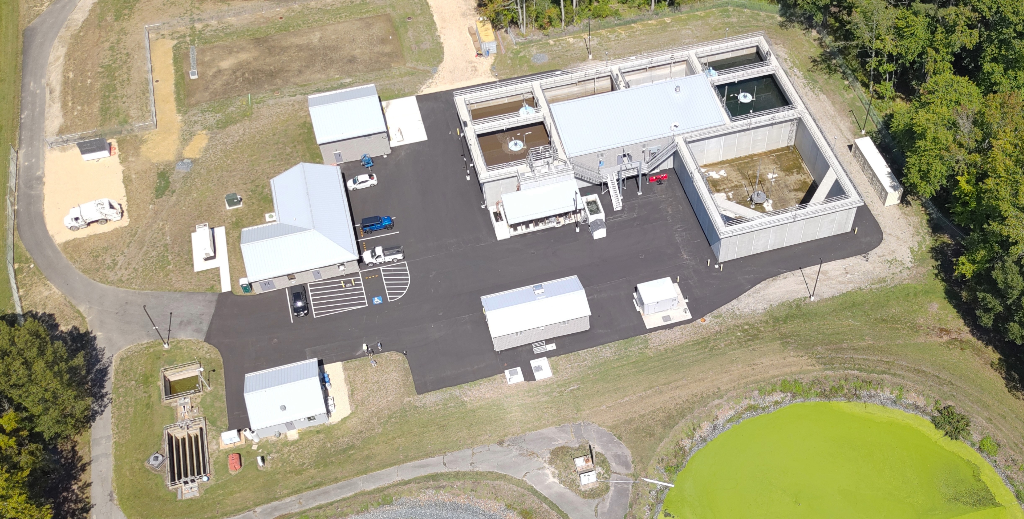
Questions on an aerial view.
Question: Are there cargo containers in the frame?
Yes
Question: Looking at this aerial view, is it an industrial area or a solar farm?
industrial area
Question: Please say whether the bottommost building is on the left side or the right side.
left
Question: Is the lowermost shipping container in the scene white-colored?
Yes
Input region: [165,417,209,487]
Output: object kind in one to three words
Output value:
storage tank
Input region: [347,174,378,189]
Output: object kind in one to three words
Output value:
car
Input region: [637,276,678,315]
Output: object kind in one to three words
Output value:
building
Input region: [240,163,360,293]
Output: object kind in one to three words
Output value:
building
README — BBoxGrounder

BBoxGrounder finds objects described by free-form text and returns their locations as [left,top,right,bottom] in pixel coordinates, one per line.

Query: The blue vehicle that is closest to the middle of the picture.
[362,214,394,233]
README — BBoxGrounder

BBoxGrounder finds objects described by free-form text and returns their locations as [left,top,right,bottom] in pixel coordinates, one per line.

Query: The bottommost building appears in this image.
[243,357,328,438]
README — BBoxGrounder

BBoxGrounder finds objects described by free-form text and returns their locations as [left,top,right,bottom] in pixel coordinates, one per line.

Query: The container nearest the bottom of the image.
[853,136,905,205]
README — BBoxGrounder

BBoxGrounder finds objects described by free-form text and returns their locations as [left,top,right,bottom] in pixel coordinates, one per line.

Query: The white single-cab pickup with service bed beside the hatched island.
[363,243,404,266]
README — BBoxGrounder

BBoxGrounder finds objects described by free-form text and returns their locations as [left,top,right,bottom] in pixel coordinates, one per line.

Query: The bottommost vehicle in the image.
[289,281,308,315]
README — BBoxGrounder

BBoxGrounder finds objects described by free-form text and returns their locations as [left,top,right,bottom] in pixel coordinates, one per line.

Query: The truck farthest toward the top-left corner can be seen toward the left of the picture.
[61,198,116,231]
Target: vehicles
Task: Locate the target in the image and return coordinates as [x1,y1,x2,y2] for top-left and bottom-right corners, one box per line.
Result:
[363,243,404,266]
[289,281,308,315]
[61,198,116,231]
[362,214,394,233]
[347,174,378,189]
